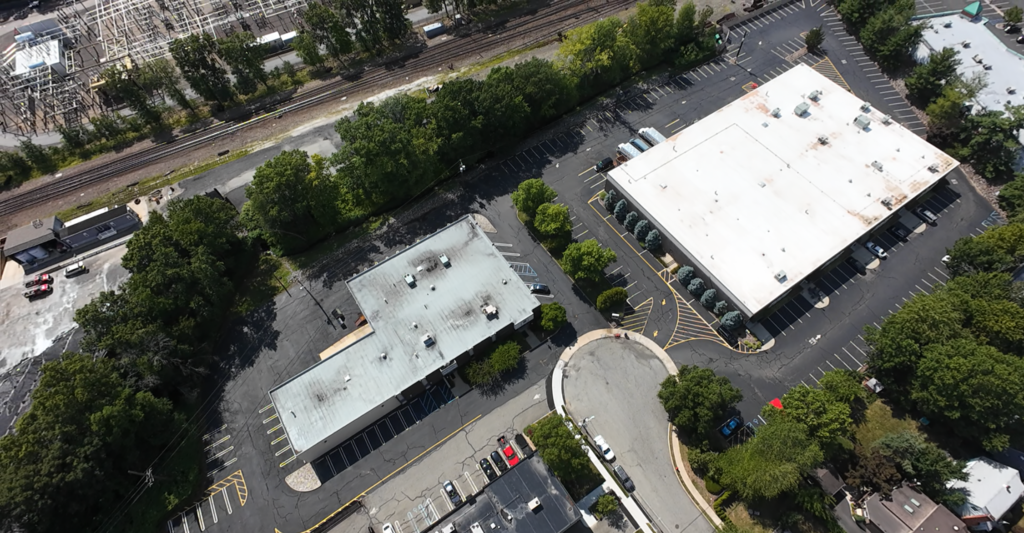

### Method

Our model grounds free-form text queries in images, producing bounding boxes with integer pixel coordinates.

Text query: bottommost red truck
[497,437,521,468]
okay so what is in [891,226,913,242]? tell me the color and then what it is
black car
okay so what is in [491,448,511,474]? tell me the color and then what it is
black car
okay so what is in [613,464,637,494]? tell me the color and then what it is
gray car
